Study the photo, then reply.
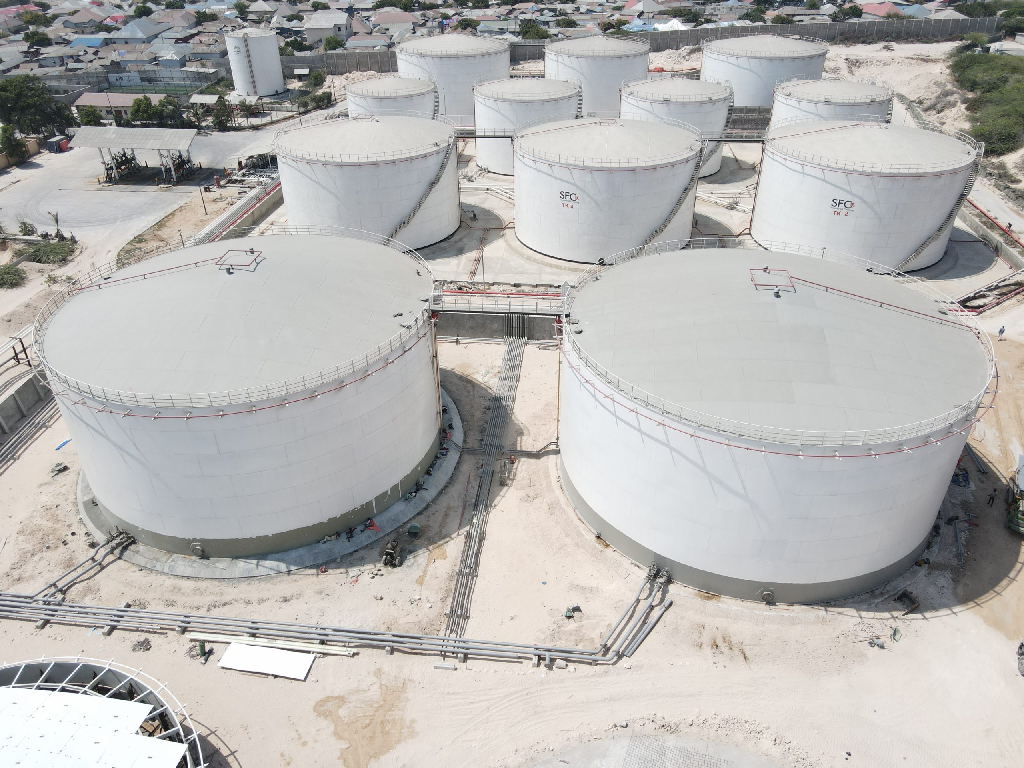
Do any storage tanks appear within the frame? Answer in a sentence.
Yes, this view includes a storage tank.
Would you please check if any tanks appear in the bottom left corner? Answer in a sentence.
Yes, the scene does show a tank in the bottom left corner.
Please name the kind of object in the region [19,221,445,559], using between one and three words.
storage tank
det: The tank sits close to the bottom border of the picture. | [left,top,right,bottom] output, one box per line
[0,648,215,768]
